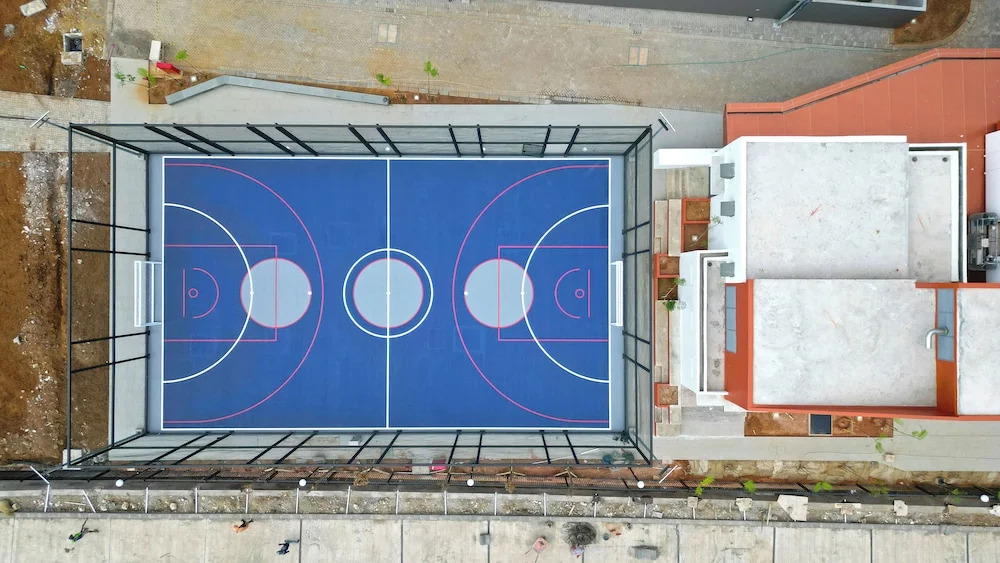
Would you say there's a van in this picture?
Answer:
No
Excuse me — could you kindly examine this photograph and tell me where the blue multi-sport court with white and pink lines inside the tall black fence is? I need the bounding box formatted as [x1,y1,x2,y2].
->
[148,155,623,431]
